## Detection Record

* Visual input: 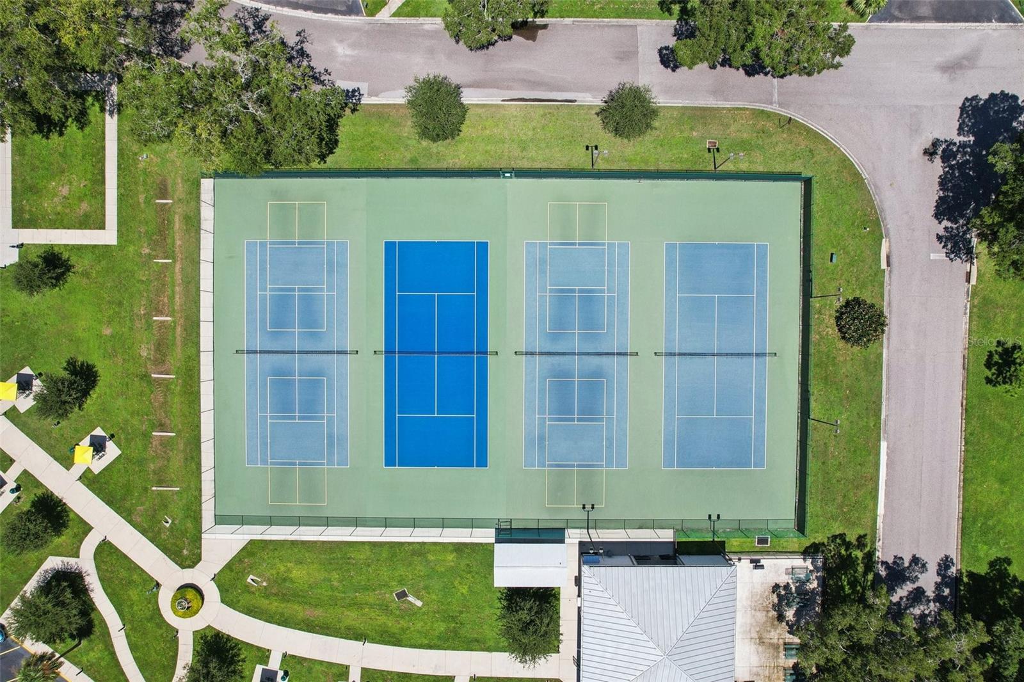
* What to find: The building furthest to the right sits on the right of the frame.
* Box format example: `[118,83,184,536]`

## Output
[580,555,737,682]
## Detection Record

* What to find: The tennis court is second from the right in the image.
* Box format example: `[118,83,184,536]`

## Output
[507,179,648,530]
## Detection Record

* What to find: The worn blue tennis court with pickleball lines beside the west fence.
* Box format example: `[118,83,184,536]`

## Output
[214,179,367,528]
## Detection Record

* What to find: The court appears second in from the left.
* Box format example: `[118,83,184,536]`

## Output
[366,179,507,529]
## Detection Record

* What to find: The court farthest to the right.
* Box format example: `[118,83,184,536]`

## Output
[647,179,802,530]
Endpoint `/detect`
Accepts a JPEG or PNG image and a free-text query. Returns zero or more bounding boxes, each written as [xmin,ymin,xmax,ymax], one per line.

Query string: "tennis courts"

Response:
[366,179,507,529]
[214,179,367,528]
[647,179,802,530]
[507,179,648,530]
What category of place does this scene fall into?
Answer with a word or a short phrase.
sports ground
